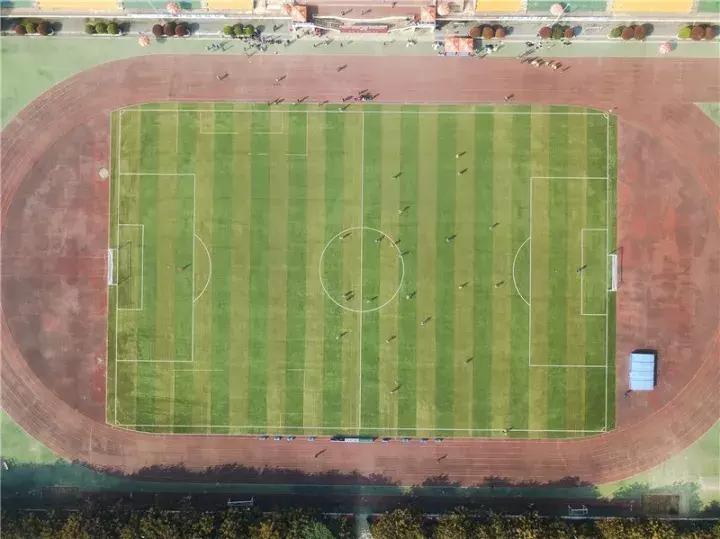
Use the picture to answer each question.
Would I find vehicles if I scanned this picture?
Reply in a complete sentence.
No, I find no vehicle anywhere in the image.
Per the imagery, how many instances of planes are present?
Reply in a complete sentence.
No planes are visible.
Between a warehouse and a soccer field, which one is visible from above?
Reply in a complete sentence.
Looking from above, you can make out a soccer field.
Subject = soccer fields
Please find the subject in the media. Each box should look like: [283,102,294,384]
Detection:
[105,103,619,439]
